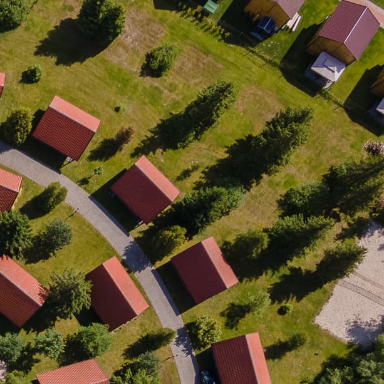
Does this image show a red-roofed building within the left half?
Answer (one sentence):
Yes, a red-roofed building is visible within the left half.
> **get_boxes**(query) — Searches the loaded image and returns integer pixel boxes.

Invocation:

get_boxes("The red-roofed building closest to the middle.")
[109,155,180,227]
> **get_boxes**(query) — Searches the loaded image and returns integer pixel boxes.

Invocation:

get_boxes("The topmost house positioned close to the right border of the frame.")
[306,0,379,63]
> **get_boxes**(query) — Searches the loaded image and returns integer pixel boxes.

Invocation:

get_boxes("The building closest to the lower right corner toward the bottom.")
[209,331,272,384]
